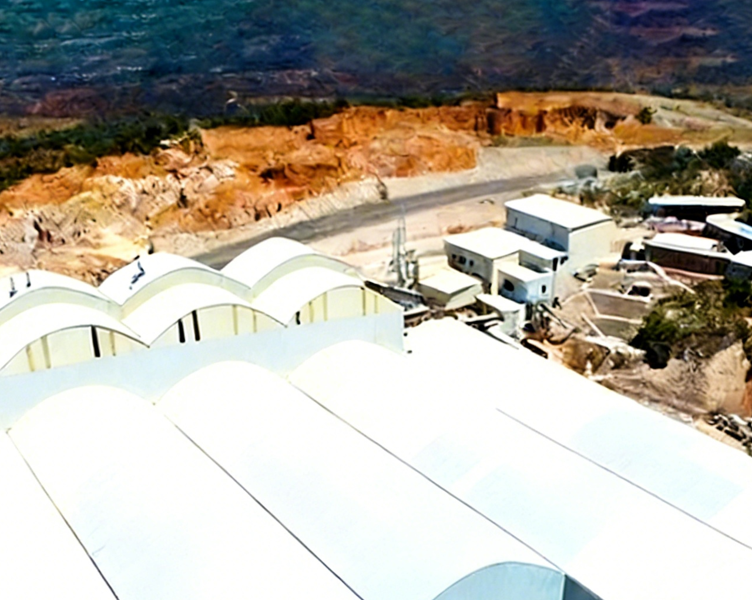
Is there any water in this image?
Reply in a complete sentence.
Yes, there's water in this view.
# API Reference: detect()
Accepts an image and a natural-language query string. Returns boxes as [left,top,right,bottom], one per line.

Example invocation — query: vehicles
[632,281,650,294]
